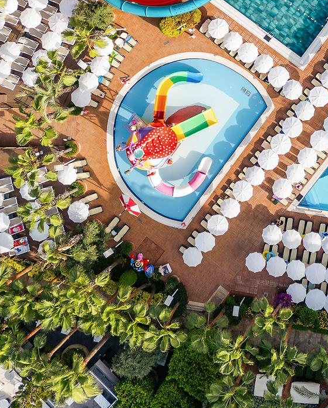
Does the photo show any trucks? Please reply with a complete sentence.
No, there is no truck in the image.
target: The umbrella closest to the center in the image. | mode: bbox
[119,194,141,216]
